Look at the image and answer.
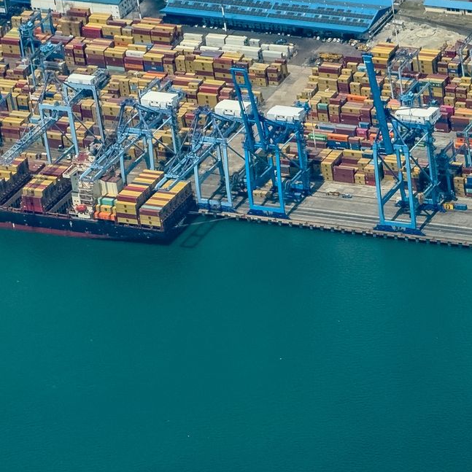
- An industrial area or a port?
port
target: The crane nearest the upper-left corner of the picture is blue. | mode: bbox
[15,15,54,56]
